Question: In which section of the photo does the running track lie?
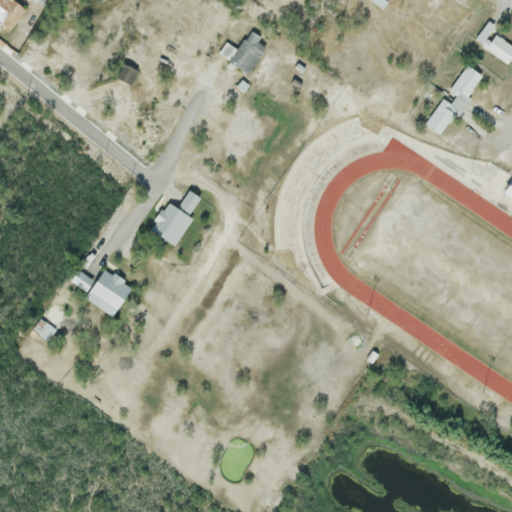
right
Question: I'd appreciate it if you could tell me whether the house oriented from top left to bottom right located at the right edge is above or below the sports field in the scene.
above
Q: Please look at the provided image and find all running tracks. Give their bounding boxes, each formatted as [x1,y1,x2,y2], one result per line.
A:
[315,137,512,401]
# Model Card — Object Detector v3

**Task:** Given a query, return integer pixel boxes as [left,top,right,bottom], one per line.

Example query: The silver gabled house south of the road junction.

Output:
[152,191,201,244]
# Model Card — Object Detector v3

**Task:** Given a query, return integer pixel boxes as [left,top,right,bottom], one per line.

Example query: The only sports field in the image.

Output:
[332,170,512,380]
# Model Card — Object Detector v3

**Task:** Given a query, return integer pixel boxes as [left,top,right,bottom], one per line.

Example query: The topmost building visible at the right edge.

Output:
[476,22,512,66]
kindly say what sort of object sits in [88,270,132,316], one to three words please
house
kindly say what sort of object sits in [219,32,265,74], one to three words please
house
